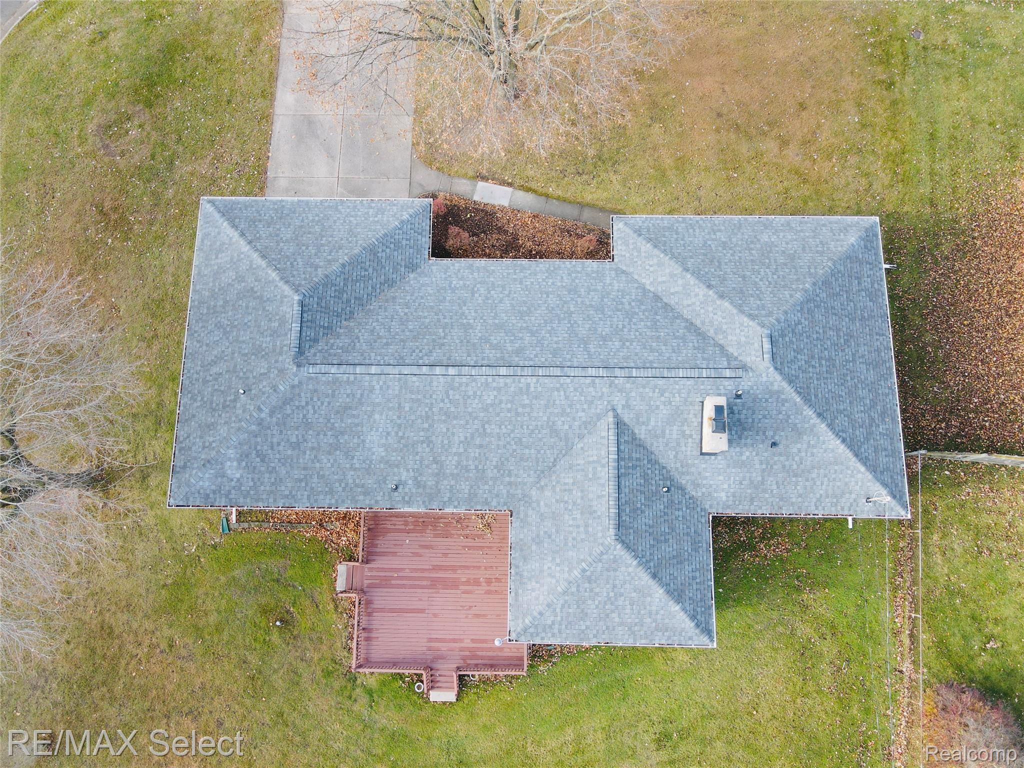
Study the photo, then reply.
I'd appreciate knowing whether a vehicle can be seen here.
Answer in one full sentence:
No, there isn't any vehicle down there.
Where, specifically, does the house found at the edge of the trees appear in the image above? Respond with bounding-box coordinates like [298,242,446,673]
[168,198,910,646]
